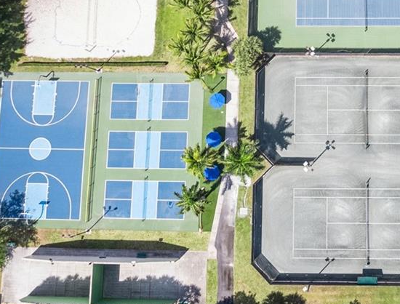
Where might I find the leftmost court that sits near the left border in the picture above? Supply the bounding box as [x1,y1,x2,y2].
[0,81,89,221]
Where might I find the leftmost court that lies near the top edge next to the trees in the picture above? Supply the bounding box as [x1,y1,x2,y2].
[24,0,158,58]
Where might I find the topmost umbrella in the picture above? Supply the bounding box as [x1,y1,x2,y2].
[209,92,225,108]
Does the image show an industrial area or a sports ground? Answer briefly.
sports ground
